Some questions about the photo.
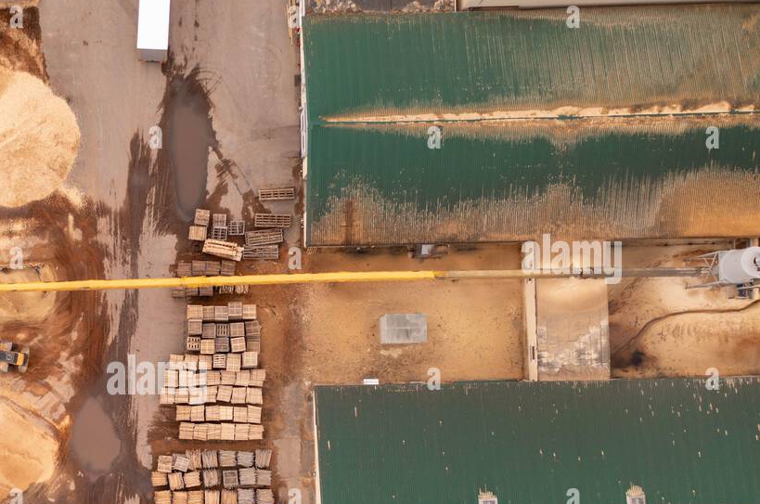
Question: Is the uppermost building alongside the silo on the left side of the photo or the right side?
right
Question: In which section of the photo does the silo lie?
right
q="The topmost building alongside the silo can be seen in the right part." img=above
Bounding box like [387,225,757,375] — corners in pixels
[295,6,760,248]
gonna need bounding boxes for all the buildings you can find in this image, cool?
[295,6,760,248]
[310,374,760,504]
